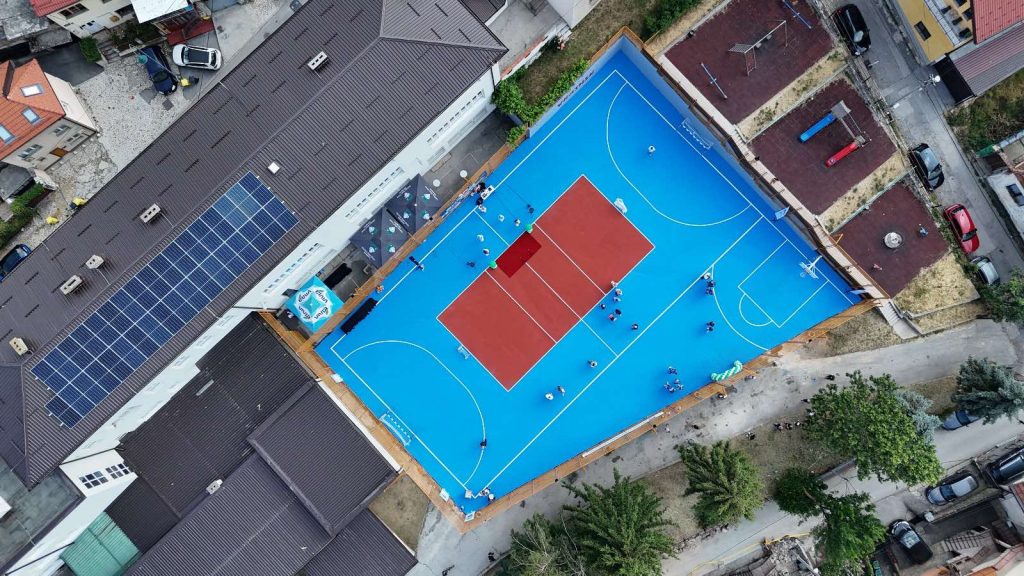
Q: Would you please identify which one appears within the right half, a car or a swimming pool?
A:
car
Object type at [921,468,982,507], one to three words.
car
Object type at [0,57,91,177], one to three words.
house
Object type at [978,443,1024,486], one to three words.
car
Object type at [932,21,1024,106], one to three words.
building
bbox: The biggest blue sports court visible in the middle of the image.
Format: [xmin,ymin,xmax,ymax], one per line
[315,50,863,513]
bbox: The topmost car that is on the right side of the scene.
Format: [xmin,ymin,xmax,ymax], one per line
[833,0,874,60]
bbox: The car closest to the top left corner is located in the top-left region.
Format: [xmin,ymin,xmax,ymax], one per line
[141,47,179,99]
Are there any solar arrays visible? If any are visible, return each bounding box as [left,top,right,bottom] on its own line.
[31,171,298,430]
